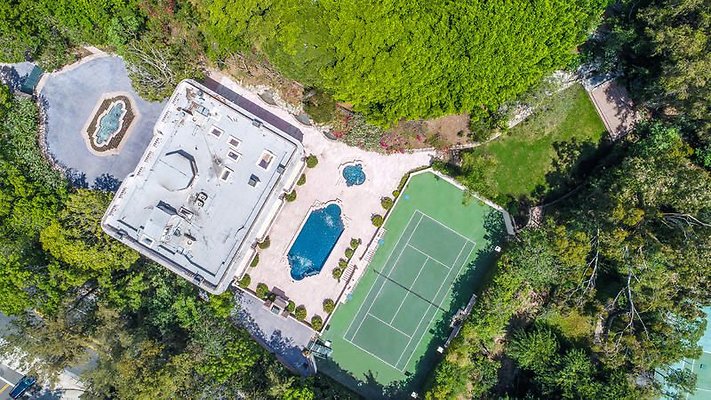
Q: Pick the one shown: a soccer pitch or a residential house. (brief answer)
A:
residential house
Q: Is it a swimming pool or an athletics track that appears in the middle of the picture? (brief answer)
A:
swimming pool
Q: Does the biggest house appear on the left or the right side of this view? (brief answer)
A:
left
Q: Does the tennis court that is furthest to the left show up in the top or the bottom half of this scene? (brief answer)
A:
bottom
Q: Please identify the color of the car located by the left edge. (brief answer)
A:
blue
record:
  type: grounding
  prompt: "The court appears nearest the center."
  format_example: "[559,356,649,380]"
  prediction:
[301,170,513,400]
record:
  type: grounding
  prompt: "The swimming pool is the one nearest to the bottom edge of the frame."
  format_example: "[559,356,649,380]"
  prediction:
[285,199,346,278]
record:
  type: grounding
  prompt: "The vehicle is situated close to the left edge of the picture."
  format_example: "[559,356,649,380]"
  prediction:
[10,374,37,400]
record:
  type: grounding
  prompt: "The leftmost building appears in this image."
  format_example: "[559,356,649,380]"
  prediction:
[100,78,309,292]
